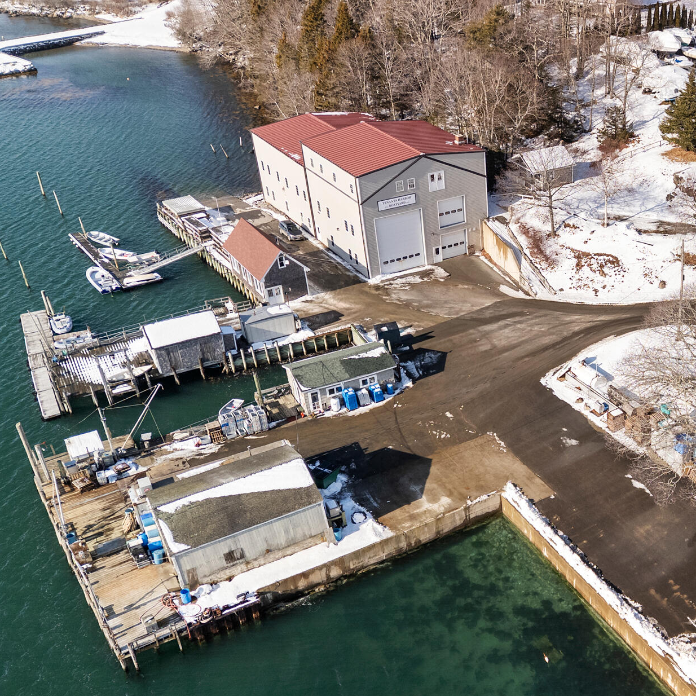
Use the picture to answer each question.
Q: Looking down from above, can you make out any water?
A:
Yes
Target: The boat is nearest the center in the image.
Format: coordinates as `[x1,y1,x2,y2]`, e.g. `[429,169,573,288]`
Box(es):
[218,396,246,413]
